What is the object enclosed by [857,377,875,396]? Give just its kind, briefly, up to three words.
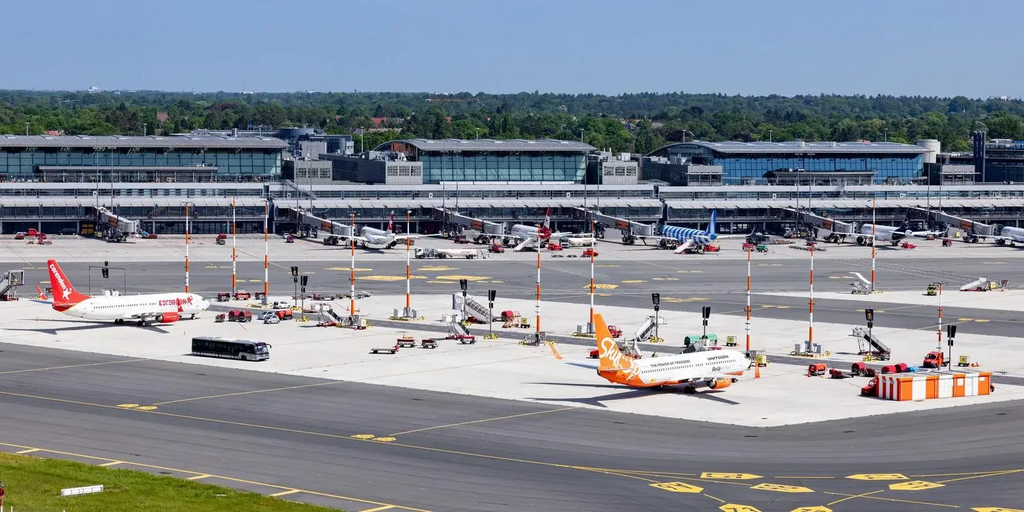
vehicle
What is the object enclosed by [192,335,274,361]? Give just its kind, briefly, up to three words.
bus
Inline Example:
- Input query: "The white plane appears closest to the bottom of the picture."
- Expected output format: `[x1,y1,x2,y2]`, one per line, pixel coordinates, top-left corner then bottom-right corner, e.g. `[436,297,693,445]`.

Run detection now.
[548,313,762,395]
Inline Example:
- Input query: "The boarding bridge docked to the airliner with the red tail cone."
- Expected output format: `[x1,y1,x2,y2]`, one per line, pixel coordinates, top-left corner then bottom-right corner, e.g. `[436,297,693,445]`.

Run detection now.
[426,205,515,241]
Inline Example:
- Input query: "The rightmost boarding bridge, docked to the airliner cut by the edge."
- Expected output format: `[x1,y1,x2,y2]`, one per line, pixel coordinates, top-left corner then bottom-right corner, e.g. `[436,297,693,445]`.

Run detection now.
[906,206,1006,239]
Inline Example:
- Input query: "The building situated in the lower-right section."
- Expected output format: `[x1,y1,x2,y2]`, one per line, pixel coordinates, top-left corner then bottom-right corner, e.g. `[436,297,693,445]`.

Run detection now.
[875,371,990,400]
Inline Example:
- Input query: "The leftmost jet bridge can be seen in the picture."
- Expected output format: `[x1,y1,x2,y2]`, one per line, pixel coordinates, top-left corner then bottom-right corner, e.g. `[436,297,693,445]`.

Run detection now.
[91,205,144,242]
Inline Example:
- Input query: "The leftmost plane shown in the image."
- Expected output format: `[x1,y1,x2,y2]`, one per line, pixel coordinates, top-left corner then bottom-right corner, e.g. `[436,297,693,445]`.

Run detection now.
[21,261,208,327]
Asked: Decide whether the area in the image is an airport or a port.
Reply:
airport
